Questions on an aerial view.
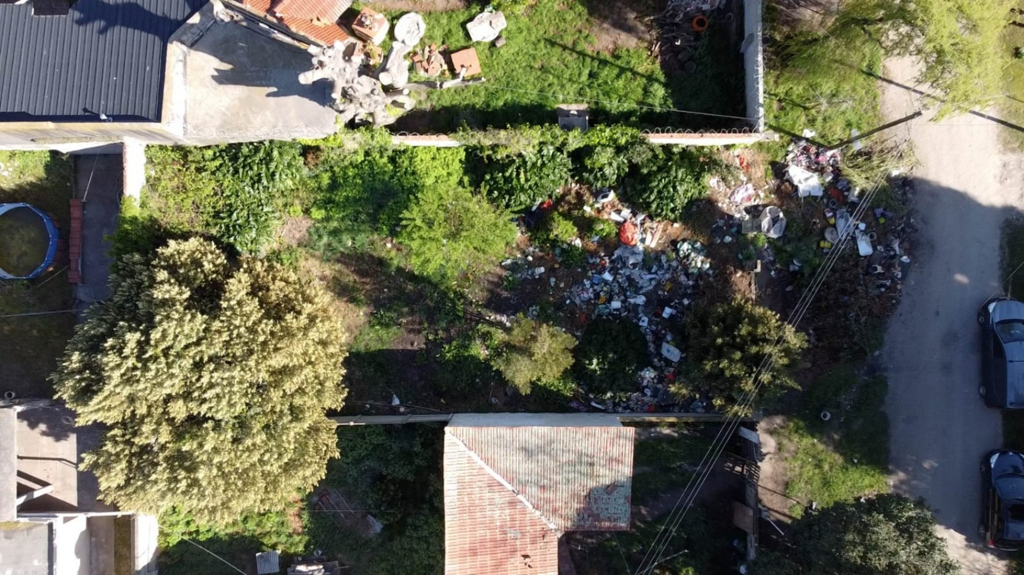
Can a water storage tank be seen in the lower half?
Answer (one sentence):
No, no water storage tank can be made out in the lower half.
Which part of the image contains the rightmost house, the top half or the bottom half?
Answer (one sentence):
The rightmost house is in the bottom half of the image.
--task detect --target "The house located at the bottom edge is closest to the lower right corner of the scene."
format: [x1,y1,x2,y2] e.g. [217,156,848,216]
[444,414,635,575]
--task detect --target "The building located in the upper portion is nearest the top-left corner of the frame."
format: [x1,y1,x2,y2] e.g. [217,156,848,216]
[0,0,235,150]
